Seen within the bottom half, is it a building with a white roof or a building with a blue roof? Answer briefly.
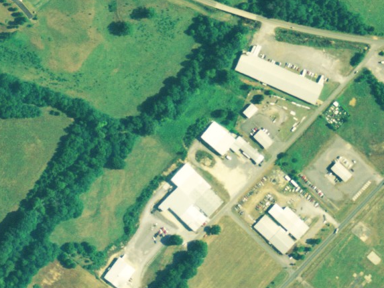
building with a white roof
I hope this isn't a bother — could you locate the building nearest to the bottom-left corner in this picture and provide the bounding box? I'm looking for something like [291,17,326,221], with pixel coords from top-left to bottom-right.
[103,255,135,288]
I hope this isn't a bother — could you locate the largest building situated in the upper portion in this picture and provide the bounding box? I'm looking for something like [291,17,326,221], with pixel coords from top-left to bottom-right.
[235,45,324,104]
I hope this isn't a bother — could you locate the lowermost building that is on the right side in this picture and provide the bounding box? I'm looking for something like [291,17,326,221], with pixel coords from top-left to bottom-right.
[253,204,309,255]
